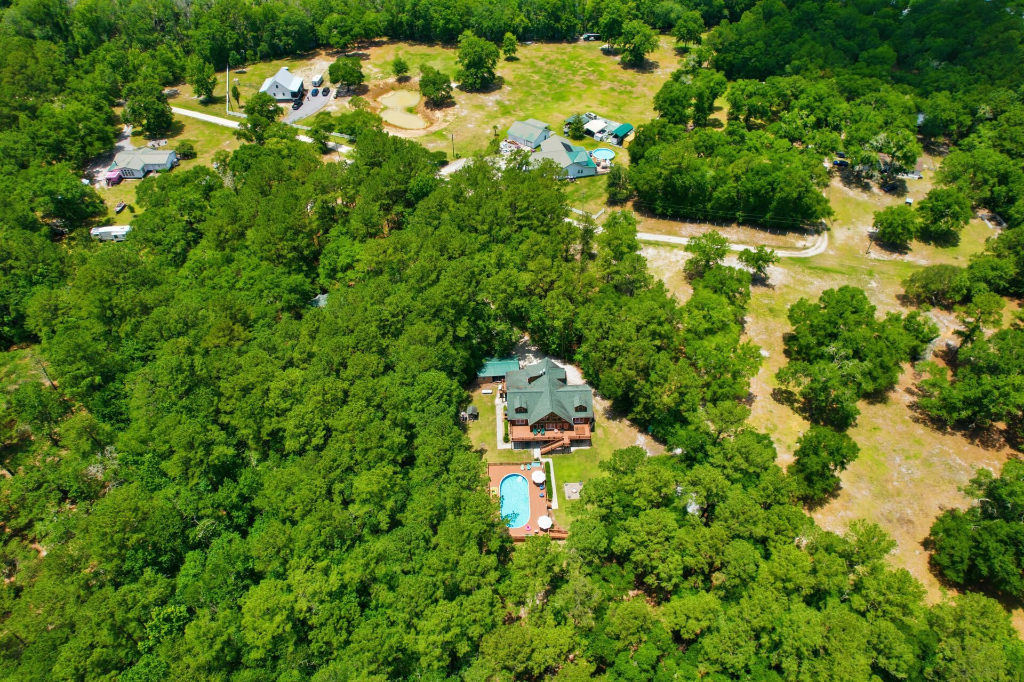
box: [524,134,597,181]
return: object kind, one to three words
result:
building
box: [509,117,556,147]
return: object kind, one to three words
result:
building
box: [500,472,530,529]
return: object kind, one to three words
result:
swimming pool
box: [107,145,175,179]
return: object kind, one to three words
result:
house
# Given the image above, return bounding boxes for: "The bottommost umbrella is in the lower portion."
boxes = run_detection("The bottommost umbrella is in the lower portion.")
[538,517,552,530]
